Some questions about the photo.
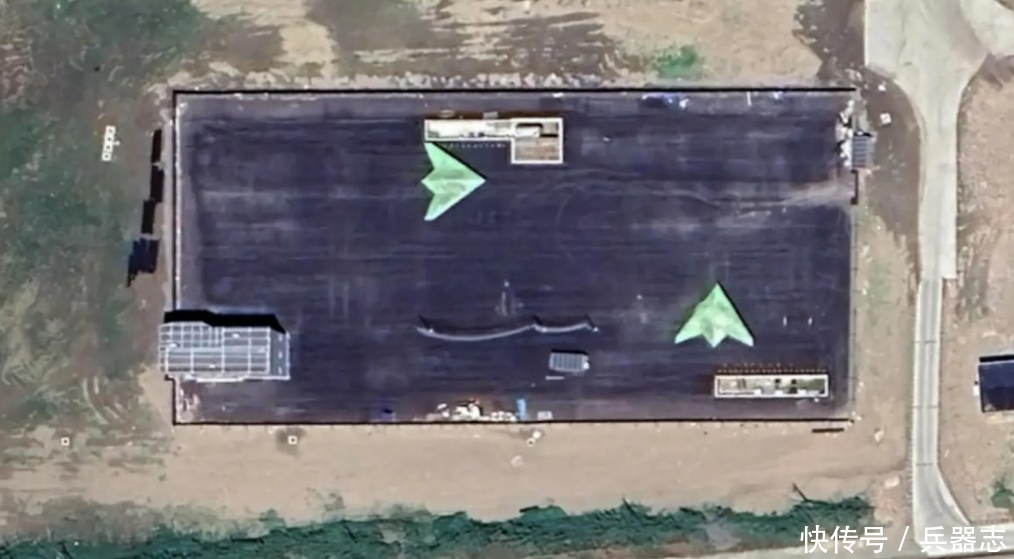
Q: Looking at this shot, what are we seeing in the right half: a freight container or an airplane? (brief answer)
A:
airplane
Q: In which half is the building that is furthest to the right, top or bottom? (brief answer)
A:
bottom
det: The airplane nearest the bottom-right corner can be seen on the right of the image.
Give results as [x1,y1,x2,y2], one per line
[677,283,753,347]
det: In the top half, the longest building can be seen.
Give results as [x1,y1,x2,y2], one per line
[424,119,566,165]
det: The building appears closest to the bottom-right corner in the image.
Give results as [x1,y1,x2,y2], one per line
[978,361,1014,414]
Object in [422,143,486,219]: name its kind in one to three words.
airplane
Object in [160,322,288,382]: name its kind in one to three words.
shed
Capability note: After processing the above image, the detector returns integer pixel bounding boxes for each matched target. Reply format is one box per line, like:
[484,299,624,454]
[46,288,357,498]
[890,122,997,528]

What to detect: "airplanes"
[422,143,486,219]
[677,283,753,347]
